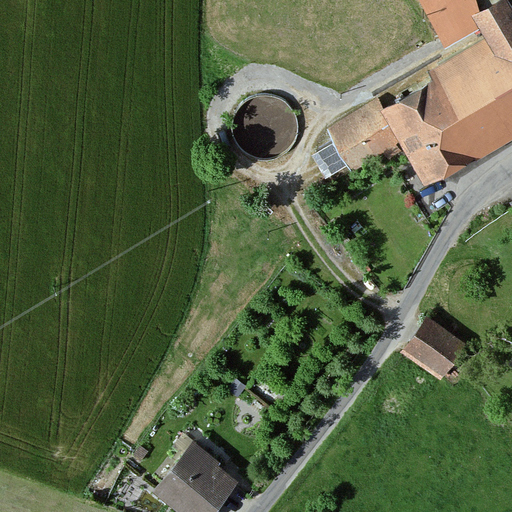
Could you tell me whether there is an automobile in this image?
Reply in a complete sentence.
Yes, the photo shows an automobile.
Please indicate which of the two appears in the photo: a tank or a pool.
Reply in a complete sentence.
There is a tank in the scene.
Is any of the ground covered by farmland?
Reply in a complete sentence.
Yes, some farmland is visible.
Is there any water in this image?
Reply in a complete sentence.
No, water can't be seen anywhere here.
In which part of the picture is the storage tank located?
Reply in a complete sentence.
Look in the top portion of the view to spot the storage tank.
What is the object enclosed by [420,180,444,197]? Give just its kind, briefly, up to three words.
car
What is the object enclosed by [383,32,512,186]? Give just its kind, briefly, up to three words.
house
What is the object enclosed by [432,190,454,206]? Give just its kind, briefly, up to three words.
car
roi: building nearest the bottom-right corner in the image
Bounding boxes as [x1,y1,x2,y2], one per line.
[400,316,464,380]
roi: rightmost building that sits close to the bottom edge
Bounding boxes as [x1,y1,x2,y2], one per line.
[153,430,238,512]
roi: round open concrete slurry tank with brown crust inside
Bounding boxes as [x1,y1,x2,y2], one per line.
[232,92,299,161]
